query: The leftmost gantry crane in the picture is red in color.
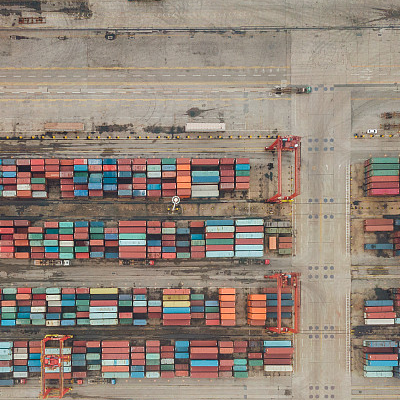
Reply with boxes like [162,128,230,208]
[39,334,73,400]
